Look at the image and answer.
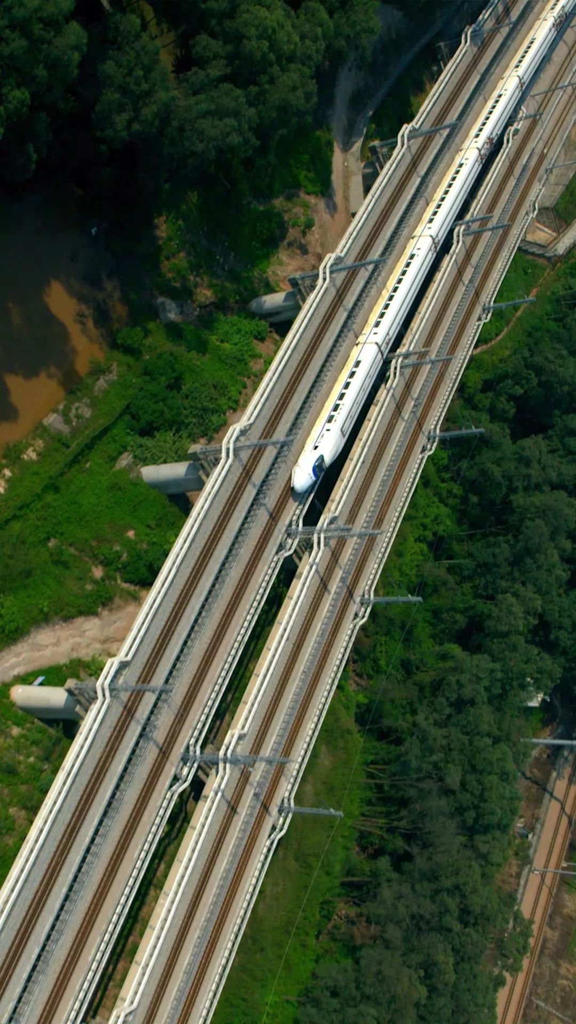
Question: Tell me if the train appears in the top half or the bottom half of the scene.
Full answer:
It is in the top half that the train appears.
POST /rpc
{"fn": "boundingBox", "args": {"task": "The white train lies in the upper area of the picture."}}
[289,0,570,495]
